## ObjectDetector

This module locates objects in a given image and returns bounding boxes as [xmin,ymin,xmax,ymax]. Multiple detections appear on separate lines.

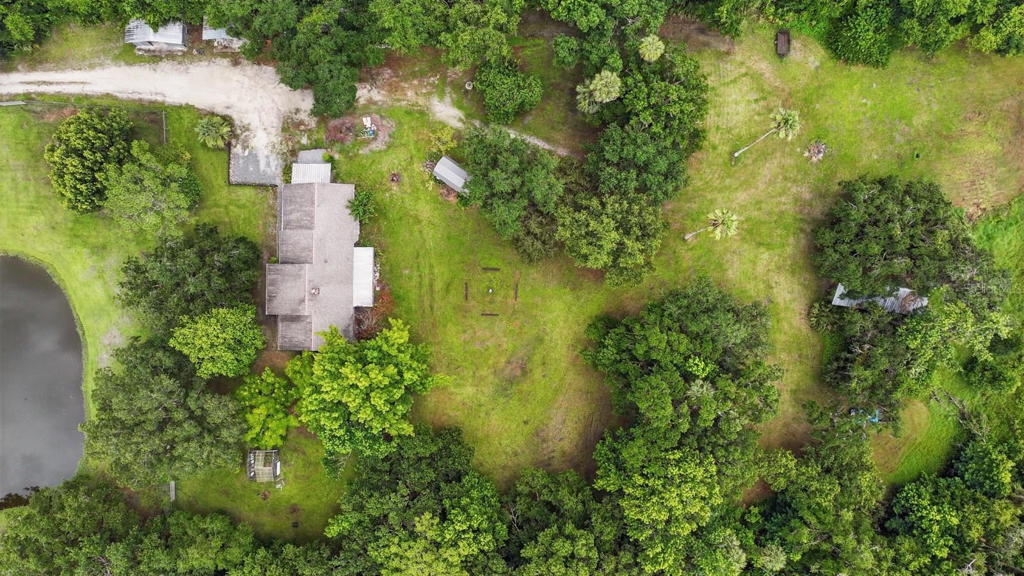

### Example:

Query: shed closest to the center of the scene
[430,157,469,194]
